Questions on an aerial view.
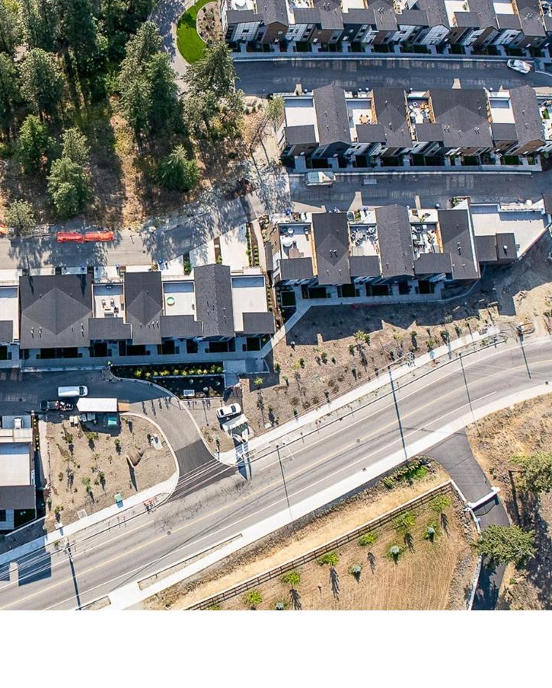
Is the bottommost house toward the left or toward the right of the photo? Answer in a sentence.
You can find the bottommost house on the left side of the picture.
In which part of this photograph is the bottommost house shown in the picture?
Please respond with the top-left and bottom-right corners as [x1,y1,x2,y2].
[0,427,38,509]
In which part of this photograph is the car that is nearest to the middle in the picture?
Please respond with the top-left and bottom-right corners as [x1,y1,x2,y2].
[219,404,243,418]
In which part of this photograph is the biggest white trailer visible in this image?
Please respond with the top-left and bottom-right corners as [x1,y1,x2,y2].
[79,396,126,412]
